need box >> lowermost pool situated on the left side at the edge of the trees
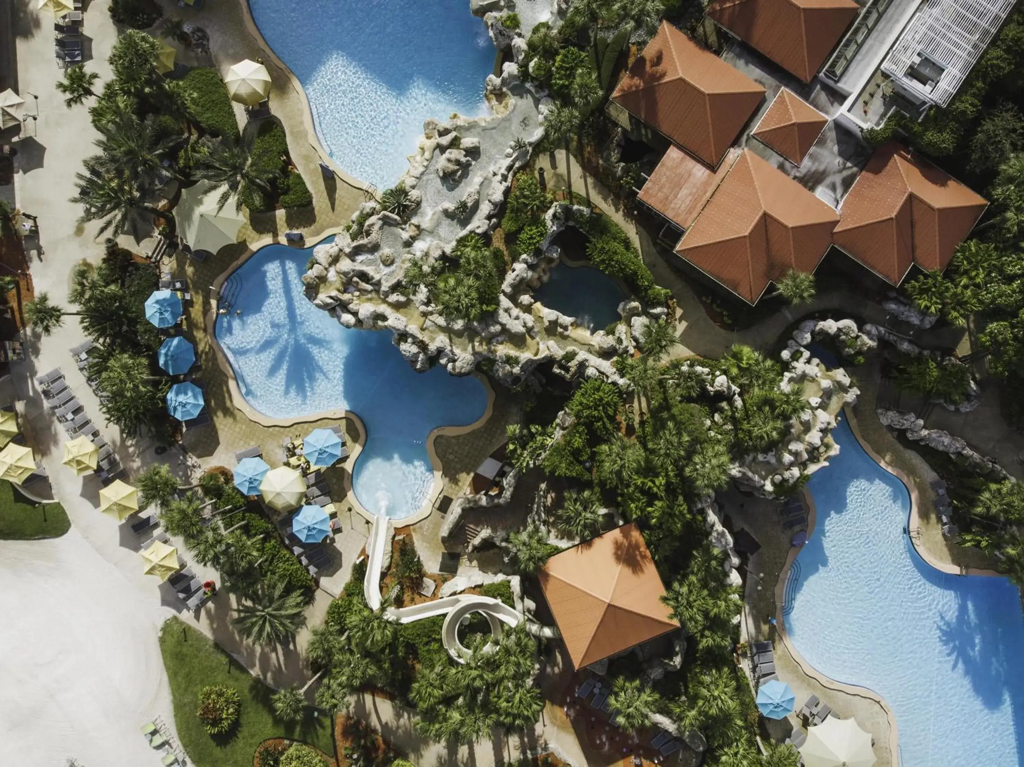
[215,244,489,519]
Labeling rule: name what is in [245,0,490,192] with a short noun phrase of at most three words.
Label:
swimming pool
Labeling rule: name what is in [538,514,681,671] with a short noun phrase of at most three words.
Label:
building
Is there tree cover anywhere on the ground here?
Yes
